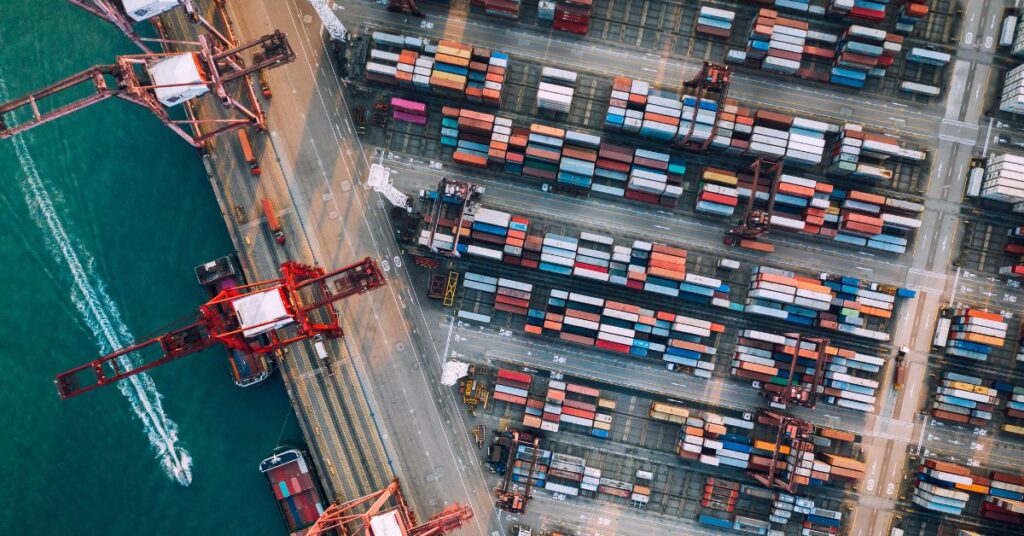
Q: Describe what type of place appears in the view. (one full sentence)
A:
This looks like a port.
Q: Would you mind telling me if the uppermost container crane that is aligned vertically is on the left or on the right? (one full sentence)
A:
You can find the uppermost container crane that is aligned vertically on the right side of the picture.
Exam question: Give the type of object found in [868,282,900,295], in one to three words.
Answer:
vehicle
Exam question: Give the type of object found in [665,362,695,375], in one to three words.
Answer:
vehicle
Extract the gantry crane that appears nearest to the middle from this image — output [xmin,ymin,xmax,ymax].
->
[427,179,478,259]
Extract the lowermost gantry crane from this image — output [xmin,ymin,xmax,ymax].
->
[304,480,482,536]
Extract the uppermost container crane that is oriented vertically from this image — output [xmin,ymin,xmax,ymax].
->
[675,63,731,152]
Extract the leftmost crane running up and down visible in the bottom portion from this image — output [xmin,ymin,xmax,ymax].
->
[496,426,543,518]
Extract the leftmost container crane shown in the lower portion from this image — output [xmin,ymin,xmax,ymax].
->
[55,252,387,404]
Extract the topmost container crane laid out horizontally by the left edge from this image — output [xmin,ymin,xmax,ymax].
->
[38,0,238,73]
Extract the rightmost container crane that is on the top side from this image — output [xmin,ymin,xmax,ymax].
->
[723,156,784,241]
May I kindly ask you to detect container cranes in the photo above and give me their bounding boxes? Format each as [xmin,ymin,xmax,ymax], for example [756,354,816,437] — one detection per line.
[761,328,827,411]
[0,16,299,160]
[38,0,238,73]
[427,179,478,259]
[744,406,808,496]
[496,426,543,518]
[675,63,731,152]
[55,252,387,404]
[723,156,784,241]
[304,480,482,536]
